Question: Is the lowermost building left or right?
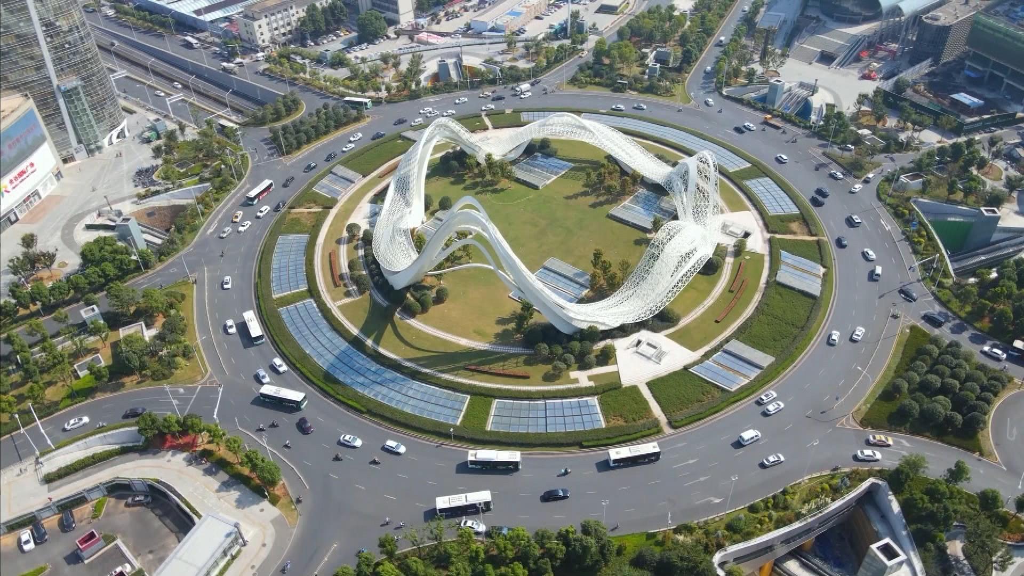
left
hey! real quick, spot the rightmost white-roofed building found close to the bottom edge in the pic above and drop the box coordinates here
[158,513,246,576]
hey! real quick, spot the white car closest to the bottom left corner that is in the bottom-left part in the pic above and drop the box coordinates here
[20,529,35,550]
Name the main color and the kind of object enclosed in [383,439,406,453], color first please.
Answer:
white car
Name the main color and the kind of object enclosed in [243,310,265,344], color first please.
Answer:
white bus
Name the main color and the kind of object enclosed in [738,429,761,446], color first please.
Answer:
white vehicle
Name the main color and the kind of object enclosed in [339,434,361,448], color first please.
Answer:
white car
